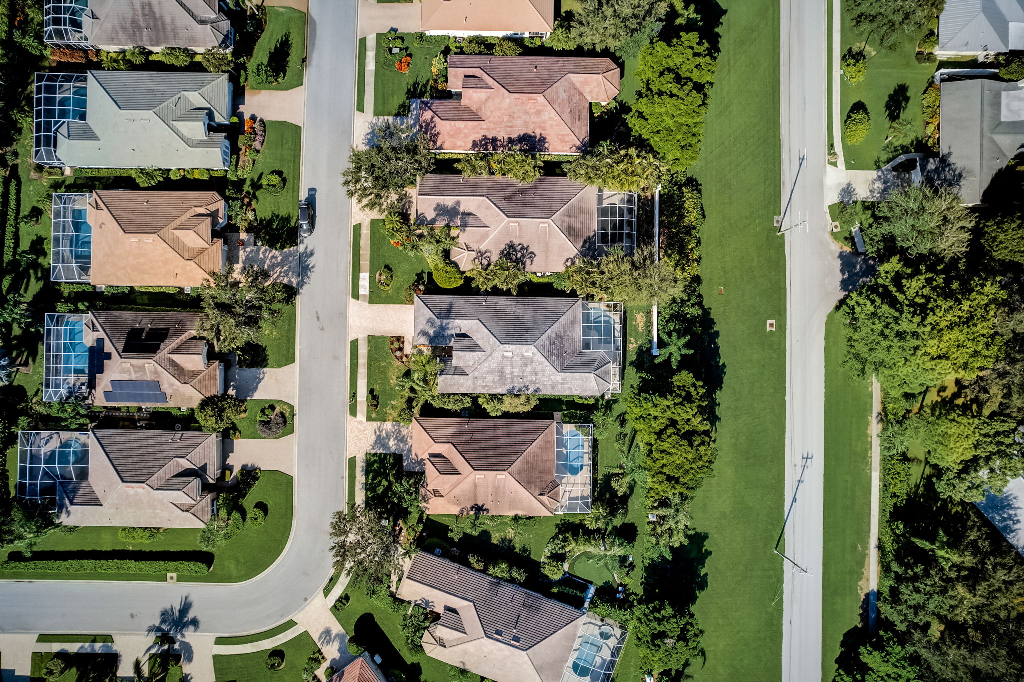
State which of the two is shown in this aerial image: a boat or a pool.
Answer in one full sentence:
I can see a pool in this picture.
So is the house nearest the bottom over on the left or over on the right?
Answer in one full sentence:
The house nearest the bottom sits on the left side.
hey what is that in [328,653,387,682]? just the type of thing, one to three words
house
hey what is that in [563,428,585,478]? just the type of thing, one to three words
swimming pool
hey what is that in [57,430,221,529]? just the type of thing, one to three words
house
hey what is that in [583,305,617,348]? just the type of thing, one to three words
swimming pool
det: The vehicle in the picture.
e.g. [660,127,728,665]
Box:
[297,198,316,237]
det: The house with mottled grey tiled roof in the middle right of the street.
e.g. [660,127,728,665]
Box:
[414,296,612,395]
